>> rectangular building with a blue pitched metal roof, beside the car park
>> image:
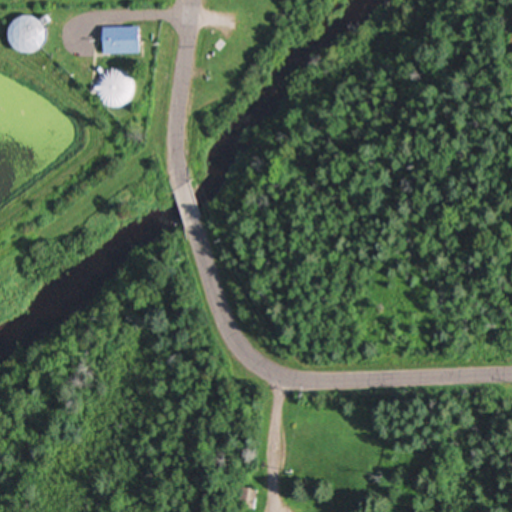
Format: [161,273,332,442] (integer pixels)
[100,24,142,53]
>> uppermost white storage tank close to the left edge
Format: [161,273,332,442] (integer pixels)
[6,14,50,53]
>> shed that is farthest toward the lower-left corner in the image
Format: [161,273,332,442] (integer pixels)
[240,488,256,510]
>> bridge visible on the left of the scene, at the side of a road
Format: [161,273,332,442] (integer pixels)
[174,181,204,240]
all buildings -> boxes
[240,488,256,510]
[100,24,142,53]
